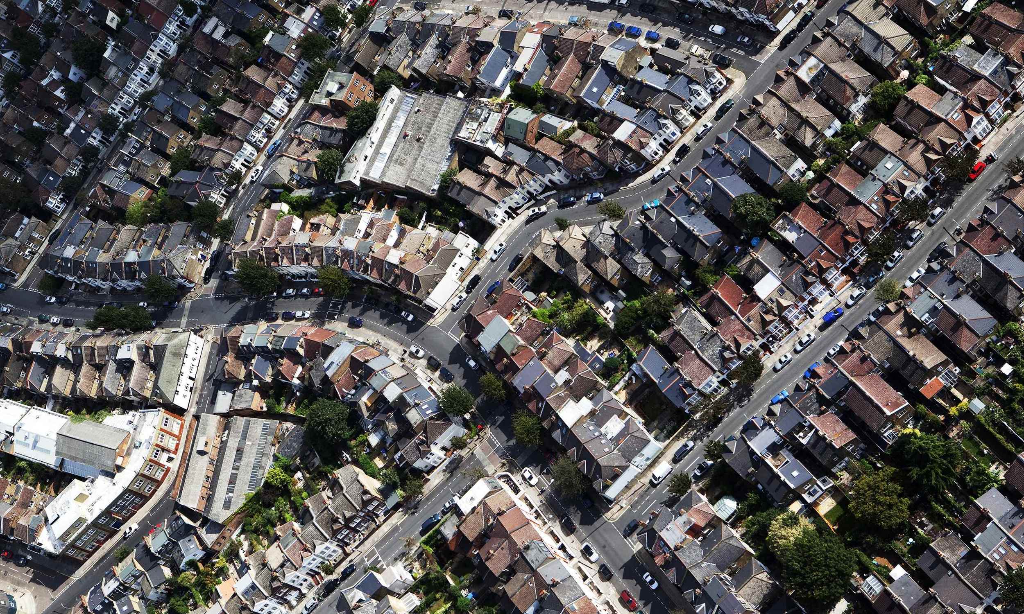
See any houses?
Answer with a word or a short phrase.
Yes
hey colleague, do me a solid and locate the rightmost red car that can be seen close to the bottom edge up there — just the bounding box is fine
[619,589,639,611]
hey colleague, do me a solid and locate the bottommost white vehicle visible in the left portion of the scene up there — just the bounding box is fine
[303,595,320,613]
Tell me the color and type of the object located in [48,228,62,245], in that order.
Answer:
black car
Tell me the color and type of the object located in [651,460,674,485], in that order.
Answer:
white vehicle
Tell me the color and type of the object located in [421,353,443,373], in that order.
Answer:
black vehicle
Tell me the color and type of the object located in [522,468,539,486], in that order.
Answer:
white car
